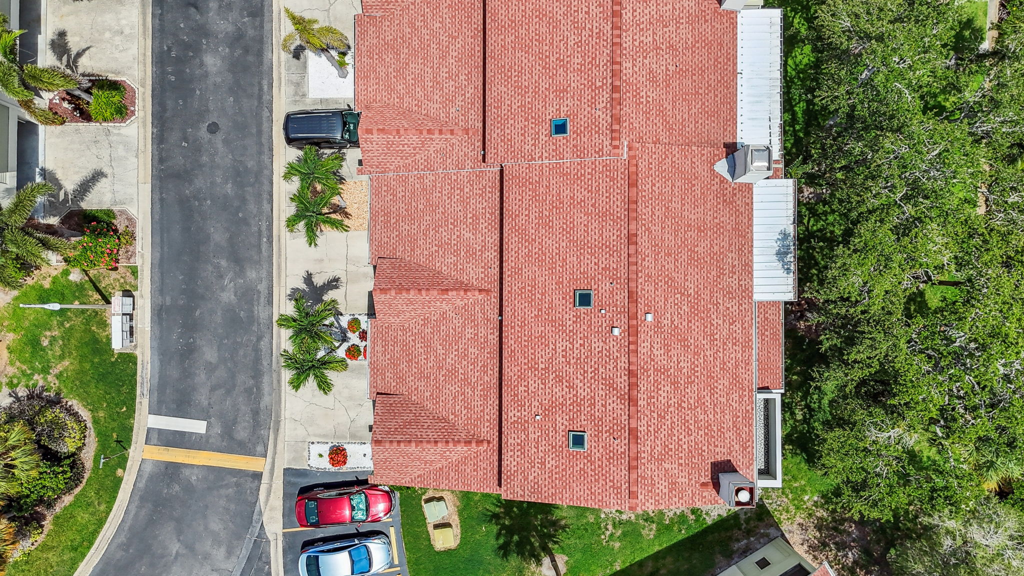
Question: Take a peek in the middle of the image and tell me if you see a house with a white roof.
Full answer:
No, no house with a white roof can be made out in the middle of the image.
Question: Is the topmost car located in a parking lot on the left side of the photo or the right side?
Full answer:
The topmost car located in a parking lot is on the left side of the image.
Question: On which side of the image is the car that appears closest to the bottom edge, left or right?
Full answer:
The car that appears closest to the bottom edge sits on the left side.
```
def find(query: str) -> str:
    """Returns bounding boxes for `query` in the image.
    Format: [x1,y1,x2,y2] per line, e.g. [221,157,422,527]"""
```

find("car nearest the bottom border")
[296,534,394,576]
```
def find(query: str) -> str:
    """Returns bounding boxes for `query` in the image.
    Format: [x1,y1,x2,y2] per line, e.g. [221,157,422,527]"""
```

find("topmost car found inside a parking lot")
[295,483,395,533]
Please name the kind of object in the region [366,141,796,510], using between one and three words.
house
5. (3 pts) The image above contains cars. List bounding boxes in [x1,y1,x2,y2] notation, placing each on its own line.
[296,534,394,576]
[295,483,395,533]
[282,108,361,151]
